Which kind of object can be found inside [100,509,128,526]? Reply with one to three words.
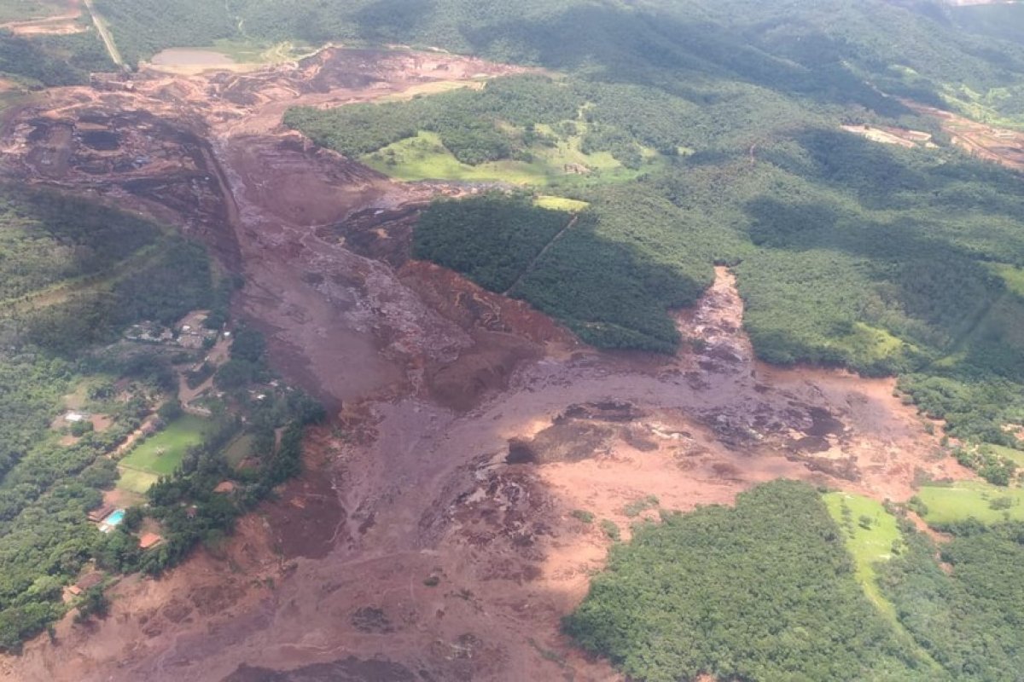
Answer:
swimming pool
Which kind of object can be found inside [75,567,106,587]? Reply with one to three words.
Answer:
house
